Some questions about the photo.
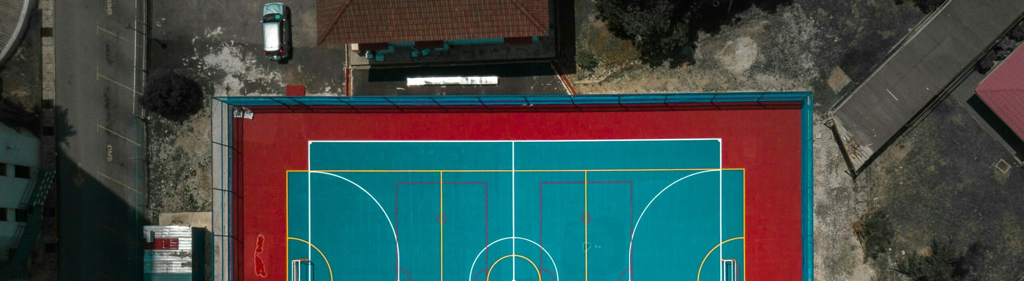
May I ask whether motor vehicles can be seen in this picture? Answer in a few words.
Yes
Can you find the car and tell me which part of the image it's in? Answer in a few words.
top left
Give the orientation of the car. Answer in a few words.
up and down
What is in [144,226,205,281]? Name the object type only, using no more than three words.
building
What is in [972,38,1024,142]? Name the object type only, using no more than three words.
house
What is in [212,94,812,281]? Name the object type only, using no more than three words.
sports court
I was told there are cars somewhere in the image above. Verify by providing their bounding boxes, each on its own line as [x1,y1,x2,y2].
[260,4,290,62]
